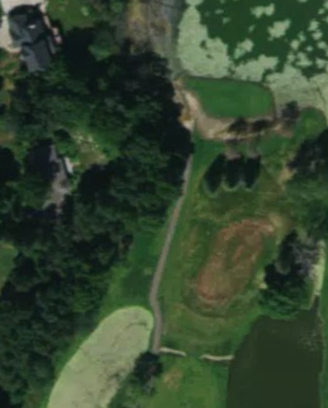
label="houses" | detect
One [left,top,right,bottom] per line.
[3,3,57,72]
[28,135,72,207]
